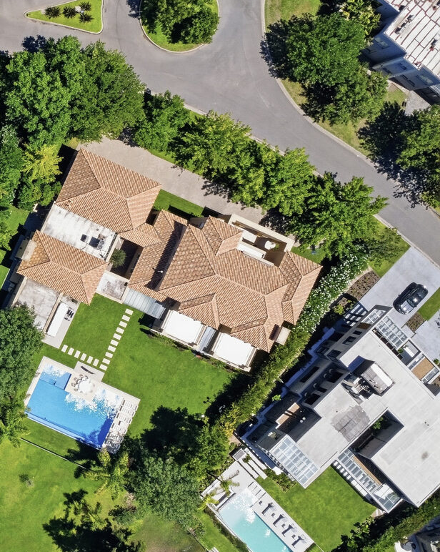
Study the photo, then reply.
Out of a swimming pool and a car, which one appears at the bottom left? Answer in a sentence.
The feature located at the bottom left is a swimming pool.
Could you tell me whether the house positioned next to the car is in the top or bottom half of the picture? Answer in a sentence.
Seen from above, the house positioned next to the car lies in the bottom half of the view.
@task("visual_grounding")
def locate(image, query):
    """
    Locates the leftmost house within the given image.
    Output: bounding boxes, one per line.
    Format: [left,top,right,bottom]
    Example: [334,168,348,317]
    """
[7,149,324,373]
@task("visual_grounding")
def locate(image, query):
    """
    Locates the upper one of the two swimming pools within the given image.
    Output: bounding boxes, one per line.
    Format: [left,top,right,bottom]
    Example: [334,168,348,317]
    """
[20,356,141,451]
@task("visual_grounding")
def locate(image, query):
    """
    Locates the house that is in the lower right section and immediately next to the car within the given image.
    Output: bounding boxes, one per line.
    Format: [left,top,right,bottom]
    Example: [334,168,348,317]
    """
[239,302,440,514]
